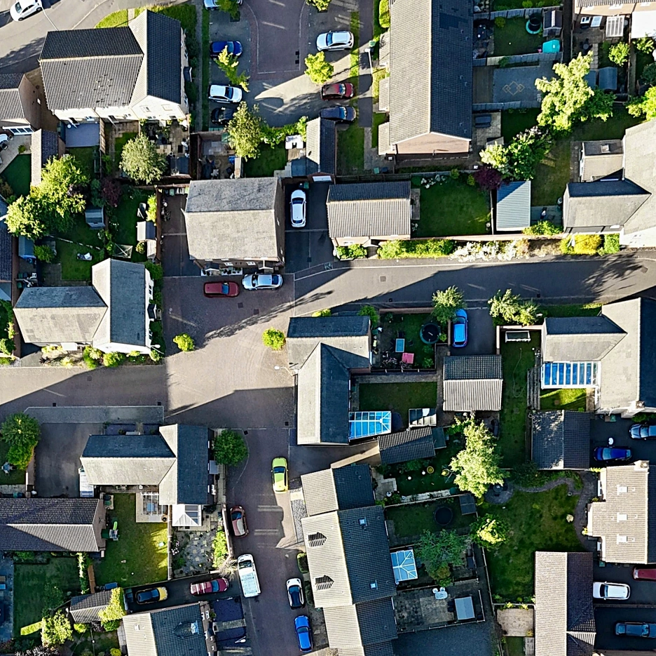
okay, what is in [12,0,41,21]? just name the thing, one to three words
car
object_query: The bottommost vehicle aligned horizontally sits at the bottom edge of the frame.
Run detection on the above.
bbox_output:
[615,619,656,639]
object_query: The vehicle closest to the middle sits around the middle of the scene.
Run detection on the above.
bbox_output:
[243,272,282,291]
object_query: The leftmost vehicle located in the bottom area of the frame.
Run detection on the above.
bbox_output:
[134,586,165,603]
